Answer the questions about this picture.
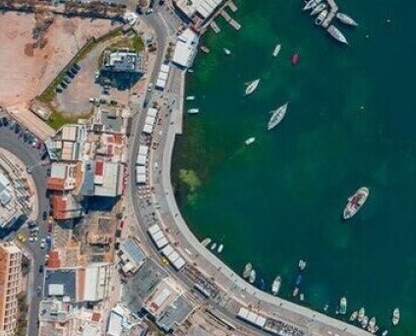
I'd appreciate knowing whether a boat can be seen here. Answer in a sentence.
Yes, I can see a boat in this picture.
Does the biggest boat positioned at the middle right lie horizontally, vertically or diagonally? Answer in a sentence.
From this overhead view, the biggest boat positioned at the middle right appears to run diagonally.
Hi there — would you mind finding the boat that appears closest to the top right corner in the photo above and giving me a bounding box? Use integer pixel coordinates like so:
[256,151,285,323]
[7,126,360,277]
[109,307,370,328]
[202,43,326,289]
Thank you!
[335,13,356,25]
